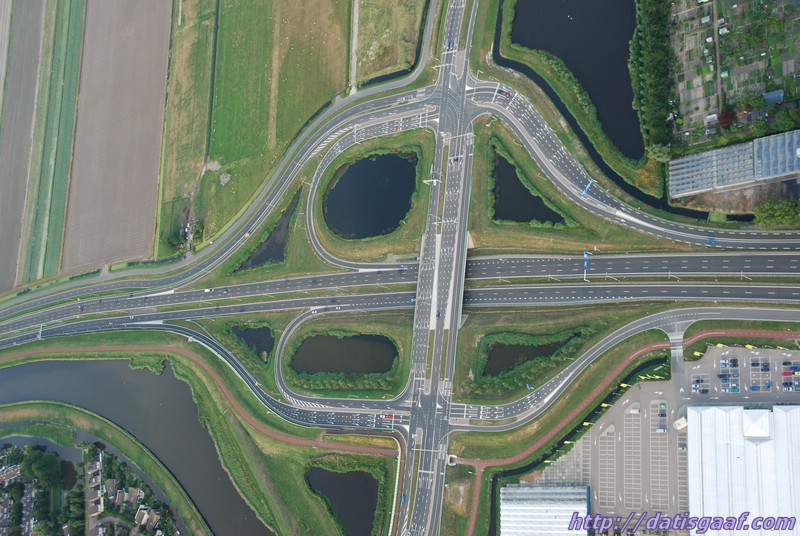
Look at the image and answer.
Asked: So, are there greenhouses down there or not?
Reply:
Yes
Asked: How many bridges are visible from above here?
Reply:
1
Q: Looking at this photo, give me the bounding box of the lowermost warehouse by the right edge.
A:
[688,405,800,536]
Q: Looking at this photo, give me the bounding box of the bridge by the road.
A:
[412,230,474,334]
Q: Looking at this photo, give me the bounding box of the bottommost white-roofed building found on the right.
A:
[500,488,595,536]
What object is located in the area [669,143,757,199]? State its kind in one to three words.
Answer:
greenhouse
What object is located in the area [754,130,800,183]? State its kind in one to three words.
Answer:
greenhouse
